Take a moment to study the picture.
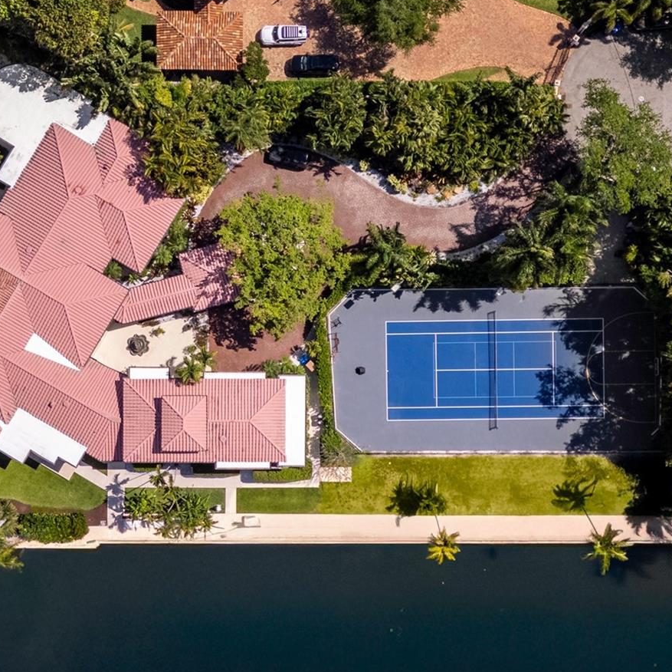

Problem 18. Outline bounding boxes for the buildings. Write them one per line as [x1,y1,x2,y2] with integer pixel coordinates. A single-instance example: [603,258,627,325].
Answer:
[155,0,244,78]
[0,65,305,470]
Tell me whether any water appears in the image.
Yes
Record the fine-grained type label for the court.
tennis court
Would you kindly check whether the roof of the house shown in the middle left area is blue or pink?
pink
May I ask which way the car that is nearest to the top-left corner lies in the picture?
from left to right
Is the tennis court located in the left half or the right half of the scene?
right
